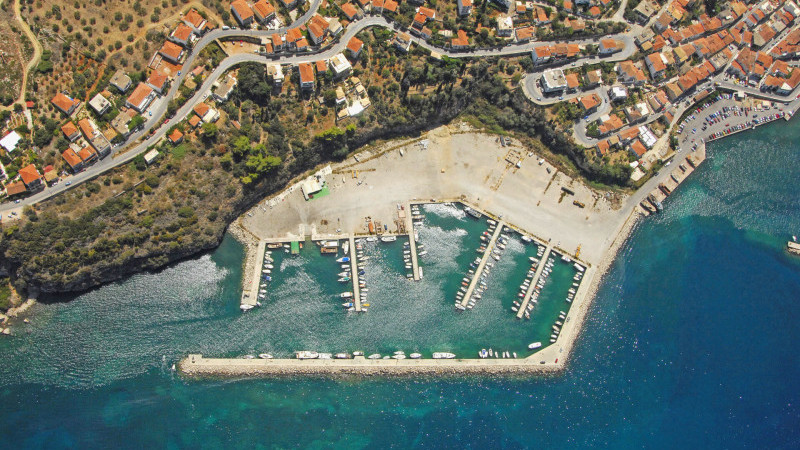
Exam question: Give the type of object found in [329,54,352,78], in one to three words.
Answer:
house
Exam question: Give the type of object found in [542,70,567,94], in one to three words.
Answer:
house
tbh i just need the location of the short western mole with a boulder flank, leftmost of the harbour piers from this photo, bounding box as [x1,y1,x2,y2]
[241,242,266,305]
